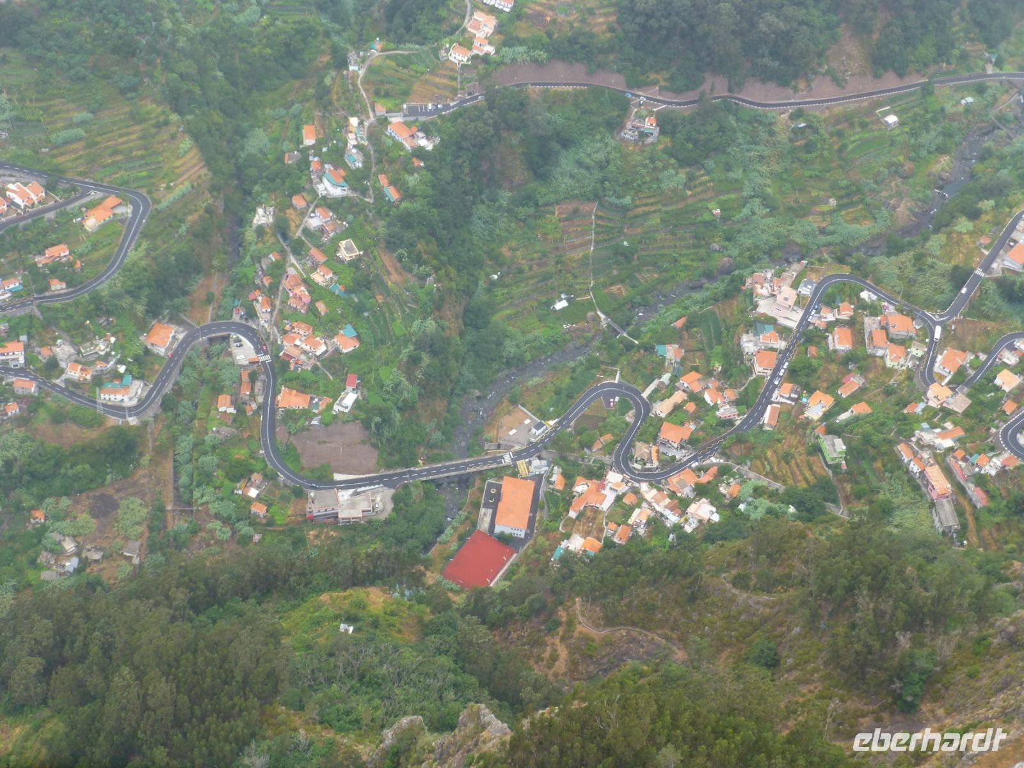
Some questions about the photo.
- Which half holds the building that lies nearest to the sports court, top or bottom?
bottom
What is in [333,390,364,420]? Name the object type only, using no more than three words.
building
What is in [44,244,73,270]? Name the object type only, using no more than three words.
house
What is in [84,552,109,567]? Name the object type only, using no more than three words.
shed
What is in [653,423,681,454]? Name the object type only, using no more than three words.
house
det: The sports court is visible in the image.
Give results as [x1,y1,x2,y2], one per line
[443,535,516,585]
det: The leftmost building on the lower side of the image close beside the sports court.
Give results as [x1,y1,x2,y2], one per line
[494,476,540,537]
